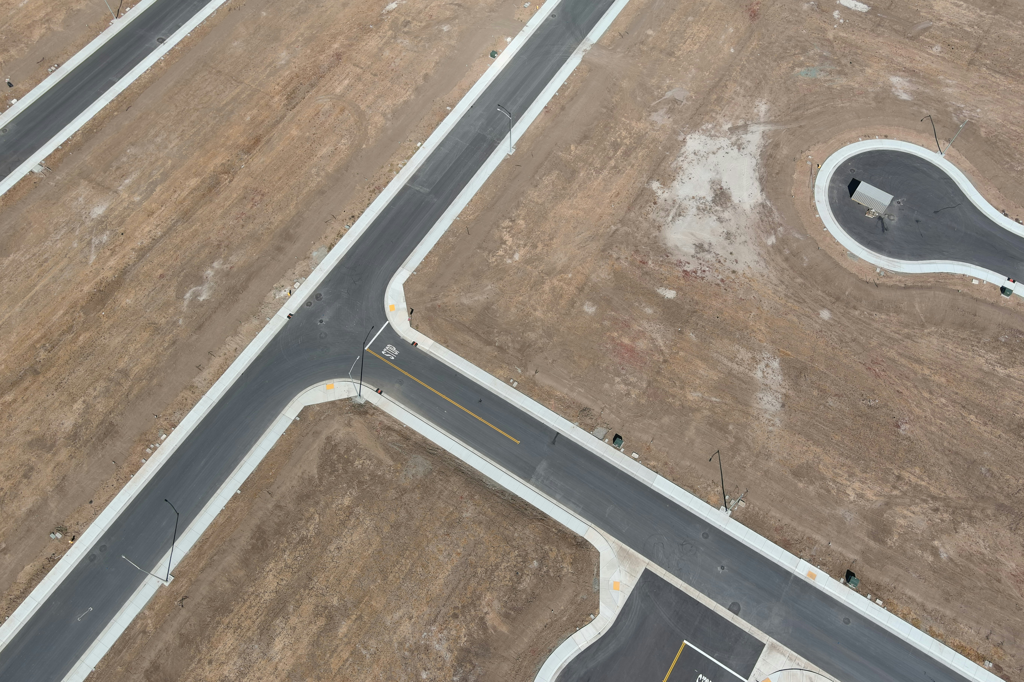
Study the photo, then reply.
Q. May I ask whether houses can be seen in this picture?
No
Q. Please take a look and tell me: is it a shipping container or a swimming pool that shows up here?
shipping container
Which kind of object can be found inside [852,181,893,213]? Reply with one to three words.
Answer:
shipping container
